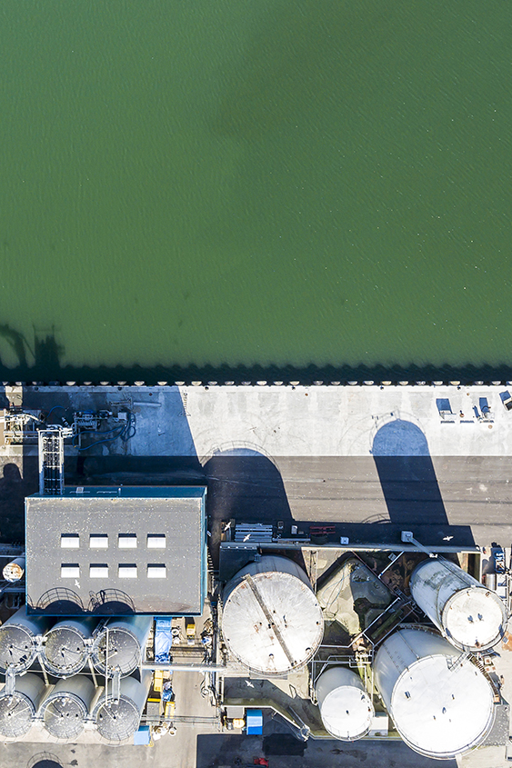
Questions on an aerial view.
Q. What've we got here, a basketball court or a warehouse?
warehouse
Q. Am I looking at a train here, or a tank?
tank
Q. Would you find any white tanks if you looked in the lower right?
Yes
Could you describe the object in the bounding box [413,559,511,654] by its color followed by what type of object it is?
white storage tank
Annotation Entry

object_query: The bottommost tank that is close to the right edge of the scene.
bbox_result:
[371,623,498,760]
